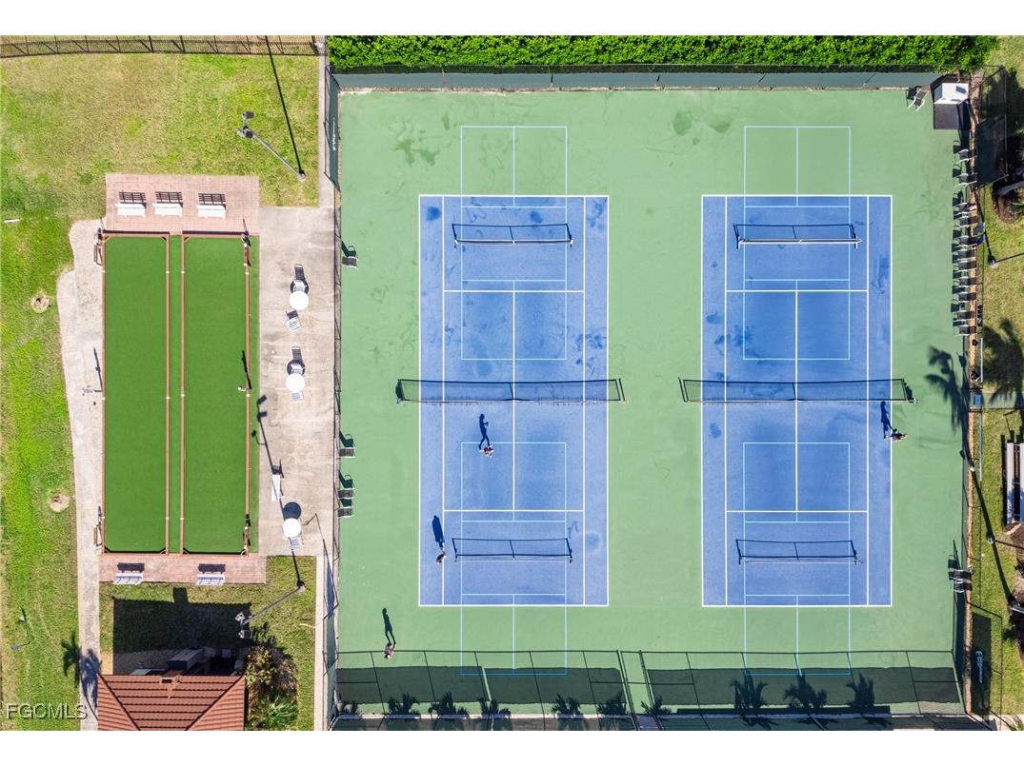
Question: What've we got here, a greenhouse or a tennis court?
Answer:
tennis court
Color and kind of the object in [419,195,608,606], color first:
blue tennis court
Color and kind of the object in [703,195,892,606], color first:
blue tennis court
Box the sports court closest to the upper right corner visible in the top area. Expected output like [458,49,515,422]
[745,126,851,360]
